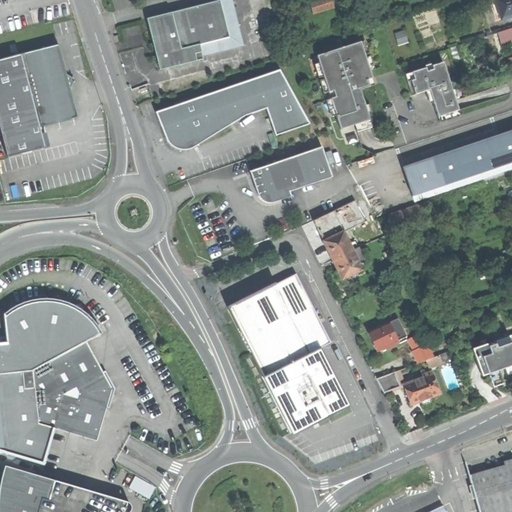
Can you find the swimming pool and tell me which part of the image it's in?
bottom right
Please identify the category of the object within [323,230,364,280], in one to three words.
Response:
house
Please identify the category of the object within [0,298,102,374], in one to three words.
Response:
building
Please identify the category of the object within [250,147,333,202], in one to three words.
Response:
building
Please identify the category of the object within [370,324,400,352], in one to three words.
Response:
house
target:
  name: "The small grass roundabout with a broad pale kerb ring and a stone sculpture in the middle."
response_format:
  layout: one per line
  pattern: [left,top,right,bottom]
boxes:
[114,192,154,232]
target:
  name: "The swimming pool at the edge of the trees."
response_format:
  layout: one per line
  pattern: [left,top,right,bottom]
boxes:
[440,364,460,391]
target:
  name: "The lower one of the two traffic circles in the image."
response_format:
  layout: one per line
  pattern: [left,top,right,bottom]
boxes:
[192,460,298,512]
